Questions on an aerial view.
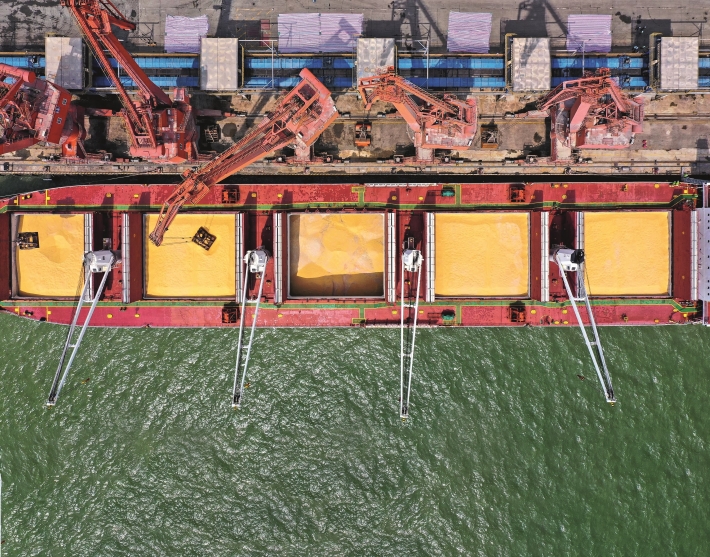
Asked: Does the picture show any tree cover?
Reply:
No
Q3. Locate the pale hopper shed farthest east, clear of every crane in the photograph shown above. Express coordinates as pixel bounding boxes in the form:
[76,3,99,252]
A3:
[620,35,710,100]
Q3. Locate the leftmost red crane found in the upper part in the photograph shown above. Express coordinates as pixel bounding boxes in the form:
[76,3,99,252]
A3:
[0,69,115,166]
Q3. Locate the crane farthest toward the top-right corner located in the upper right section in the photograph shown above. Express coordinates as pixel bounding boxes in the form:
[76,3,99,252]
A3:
[491,71,646,166]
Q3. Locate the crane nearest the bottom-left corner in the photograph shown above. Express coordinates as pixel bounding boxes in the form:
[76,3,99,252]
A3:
[44,243,122,407]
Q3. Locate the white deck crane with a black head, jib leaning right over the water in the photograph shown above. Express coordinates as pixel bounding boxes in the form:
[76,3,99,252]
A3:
[549,243,618,406]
